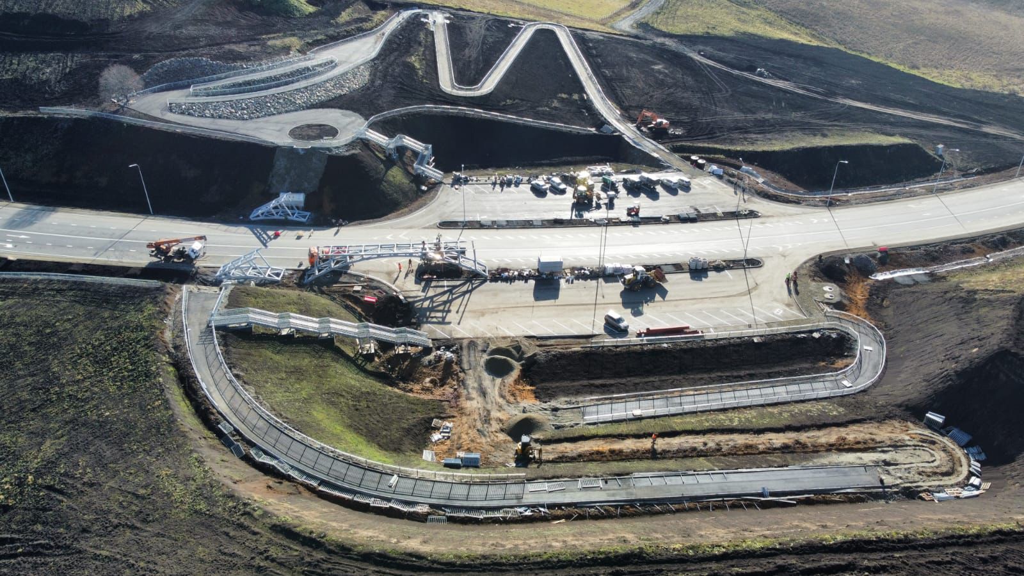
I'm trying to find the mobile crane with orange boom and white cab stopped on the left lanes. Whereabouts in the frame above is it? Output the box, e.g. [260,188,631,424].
[147,239,211,266]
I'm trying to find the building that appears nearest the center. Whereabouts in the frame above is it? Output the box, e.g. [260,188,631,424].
[537,255,564,276]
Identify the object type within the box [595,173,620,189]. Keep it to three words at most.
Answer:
vehicle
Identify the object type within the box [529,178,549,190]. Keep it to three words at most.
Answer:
vehicle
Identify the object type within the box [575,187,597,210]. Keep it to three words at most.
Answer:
work vehicle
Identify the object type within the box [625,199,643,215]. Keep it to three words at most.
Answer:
work vehicle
